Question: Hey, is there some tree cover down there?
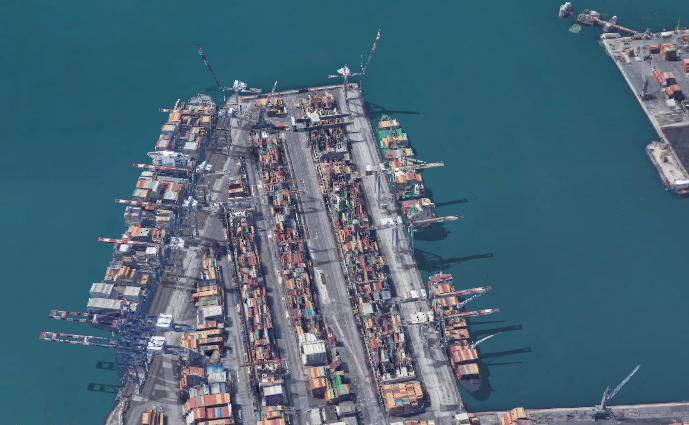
No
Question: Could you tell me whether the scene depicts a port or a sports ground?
port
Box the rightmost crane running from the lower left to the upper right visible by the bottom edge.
[591,358,643,423]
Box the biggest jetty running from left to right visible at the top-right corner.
[579,15,638,34]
